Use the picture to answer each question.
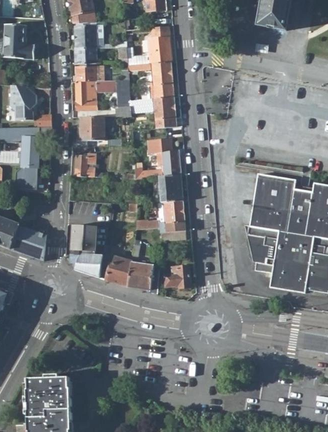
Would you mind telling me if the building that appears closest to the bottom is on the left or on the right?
left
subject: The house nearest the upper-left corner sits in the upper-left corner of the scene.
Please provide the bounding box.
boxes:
[2,22,36,60]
